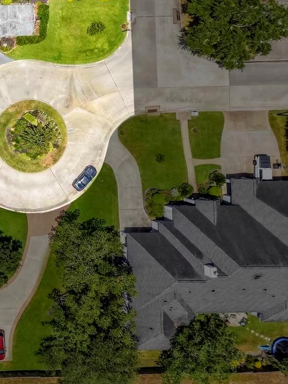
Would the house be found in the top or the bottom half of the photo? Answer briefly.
bottom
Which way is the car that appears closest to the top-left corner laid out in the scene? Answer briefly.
at an angle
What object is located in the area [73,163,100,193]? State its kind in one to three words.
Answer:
car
